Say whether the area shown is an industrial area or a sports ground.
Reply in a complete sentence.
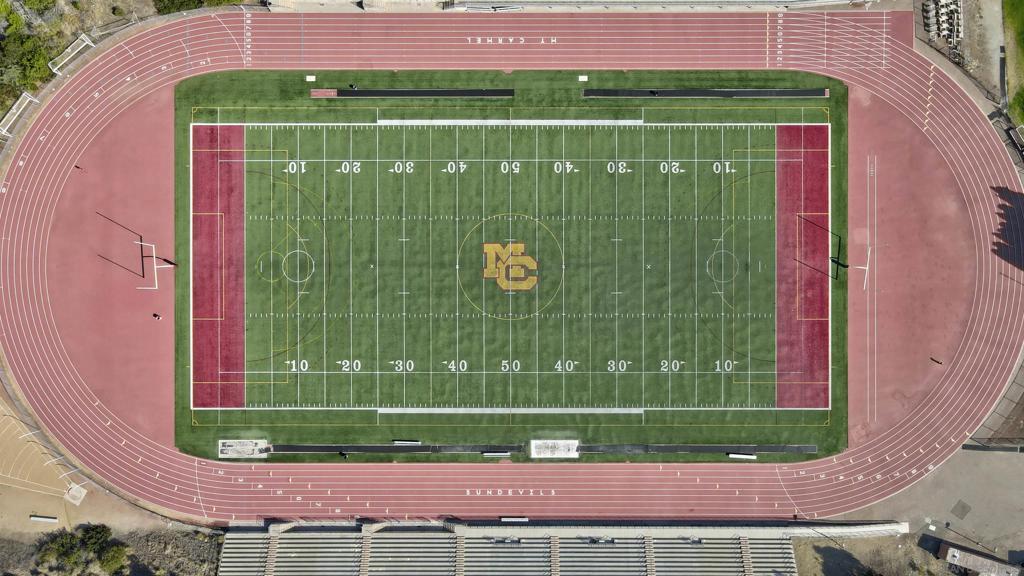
This looks like a sports ground.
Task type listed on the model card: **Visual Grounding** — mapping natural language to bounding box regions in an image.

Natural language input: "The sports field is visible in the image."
[175,68,849,464]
